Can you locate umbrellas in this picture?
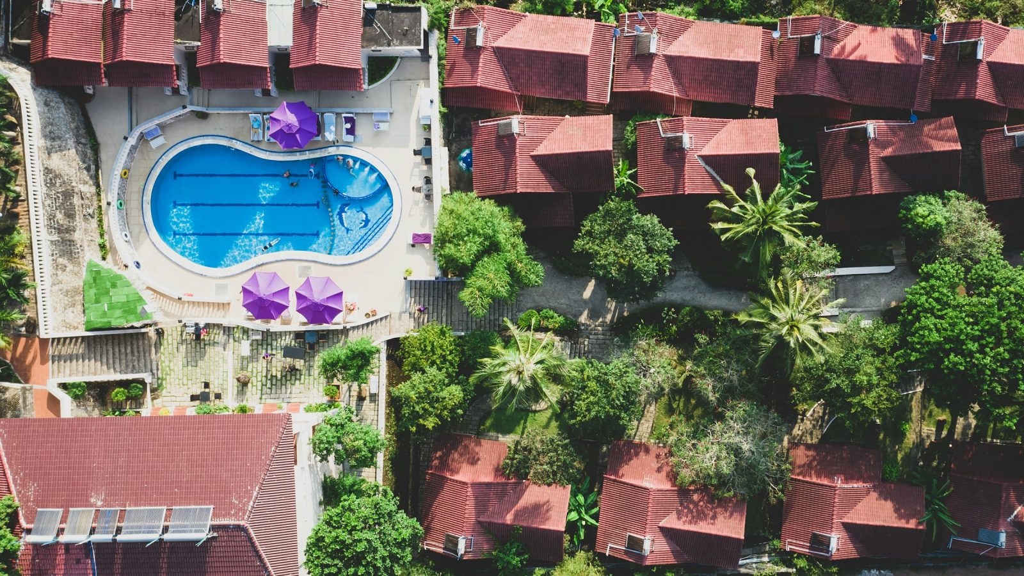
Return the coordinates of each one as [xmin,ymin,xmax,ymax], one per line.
[270,101,319,150]
[244,273,290,318]
[454,145,474,178]
[298,277,343,323]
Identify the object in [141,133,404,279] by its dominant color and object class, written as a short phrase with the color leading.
blue swimming pool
